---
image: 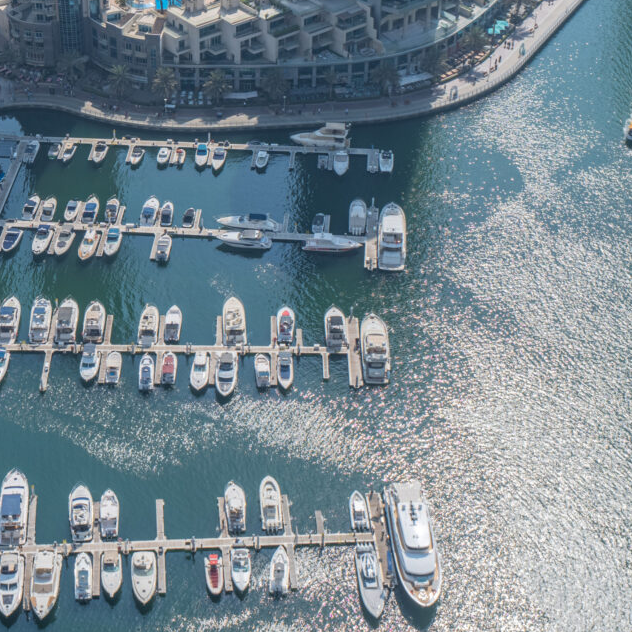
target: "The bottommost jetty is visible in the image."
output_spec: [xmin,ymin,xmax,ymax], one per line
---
[0,481,396,616]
